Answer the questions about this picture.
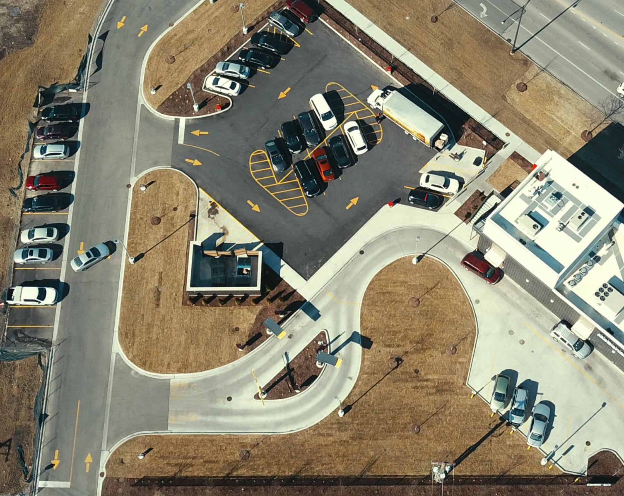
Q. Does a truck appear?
Yes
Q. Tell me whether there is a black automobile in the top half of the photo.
Yes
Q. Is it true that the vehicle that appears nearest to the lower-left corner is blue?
No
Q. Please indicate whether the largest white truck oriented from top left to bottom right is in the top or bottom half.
top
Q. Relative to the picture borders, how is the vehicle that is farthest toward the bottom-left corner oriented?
from side to side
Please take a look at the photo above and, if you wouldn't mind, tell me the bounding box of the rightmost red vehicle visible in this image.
[460,251,502,284]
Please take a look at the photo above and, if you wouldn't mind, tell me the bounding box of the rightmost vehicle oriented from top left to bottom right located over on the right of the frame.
[552,322,592,358]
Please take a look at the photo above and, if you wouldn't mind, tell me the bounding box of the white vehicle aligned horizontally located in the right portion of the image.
[420,175,458,194]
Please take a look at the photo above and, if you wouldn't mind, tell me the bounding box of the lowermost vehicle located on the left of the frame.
[5,285,57,306]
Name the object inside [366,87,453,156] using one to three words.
truck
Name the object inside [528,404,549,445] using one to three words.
car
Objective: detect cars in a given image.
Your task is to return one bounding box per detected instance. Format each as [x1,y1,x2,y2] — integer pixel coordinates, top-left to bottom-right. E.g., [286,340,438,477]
[280,121,302,154]
[408,191,442,210]
[24,195,62,213]
[14,247,54,266]
[206,79,240,98]
[344,121,369,156]
[298,113,320,147]
[292,160,318,196]
[37,125,70,142]
[216,63,251,83]
[528,404,549,445]
[70,242,110,274]
[265,141,286,173]
[328,135,353,168]
[491,375,511,411]
[26,175,61,192]
[254,32,291,56]
[616,82,624,98]
[240,49,278,72]
[21,226,60,245]
[509,388,530,425]
[313,149,335,182]
[460,251,502,284]
[267,11,298,37]
[41,105,79,124]
[310,93,336,130]
[420,175,458,194]
[552,322,592,358]
[34,144,70,161]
